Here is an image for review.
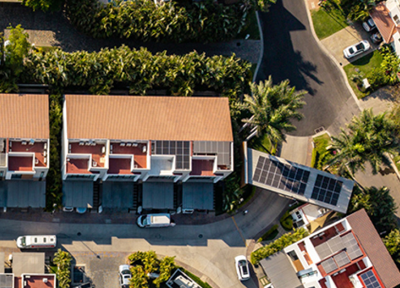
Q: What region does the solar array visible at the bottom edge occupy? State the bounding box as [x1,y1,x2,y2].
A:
[360,270,381,288]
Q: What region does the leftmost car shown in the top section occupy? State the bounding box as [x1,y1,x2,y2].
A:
[343,40,369,59]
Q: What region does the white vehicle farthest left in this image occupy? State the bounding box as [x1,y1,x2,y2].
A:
[18,235,55,248]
